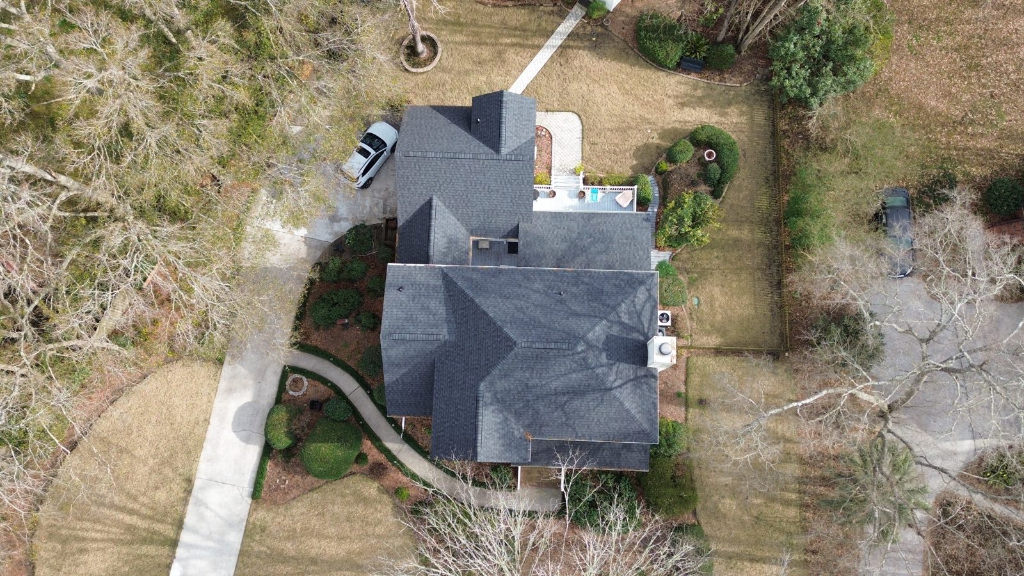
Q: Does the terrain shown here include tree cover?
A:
Yes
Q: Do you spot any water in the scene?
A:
No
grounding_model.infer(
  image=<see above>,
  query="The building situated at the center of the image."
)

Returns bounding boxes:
[381,88,680,489]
